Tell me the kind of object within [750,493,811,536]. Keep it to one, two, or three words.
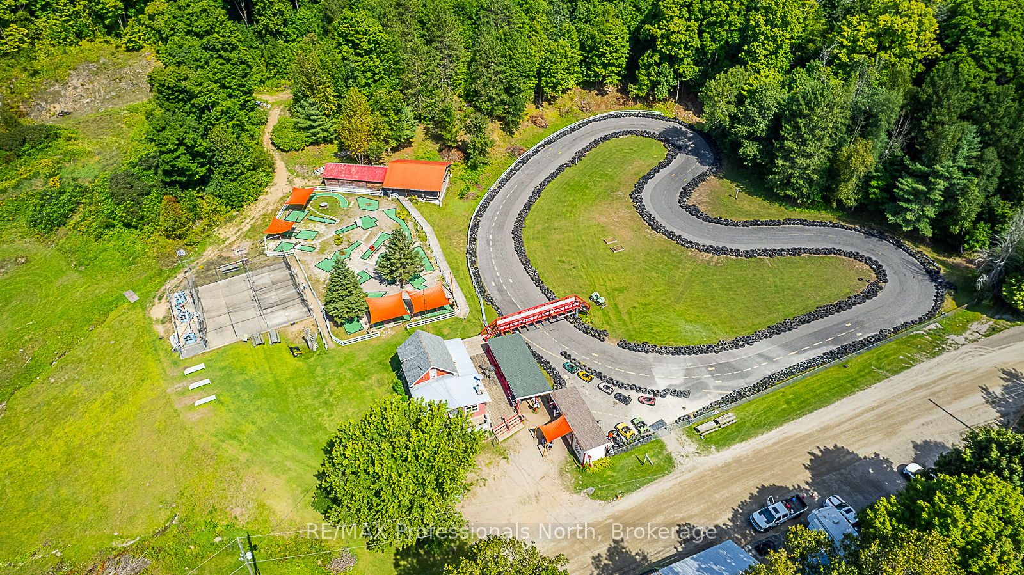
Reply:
truck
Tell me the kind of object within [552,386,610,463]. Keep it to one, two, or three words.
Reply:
building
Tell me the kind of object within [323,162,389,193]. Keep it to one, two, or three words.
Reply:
shed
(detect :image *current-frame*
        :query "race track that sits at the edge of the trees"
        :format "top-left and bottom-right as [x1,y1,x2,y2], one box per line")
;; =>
[473,115,939,453]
